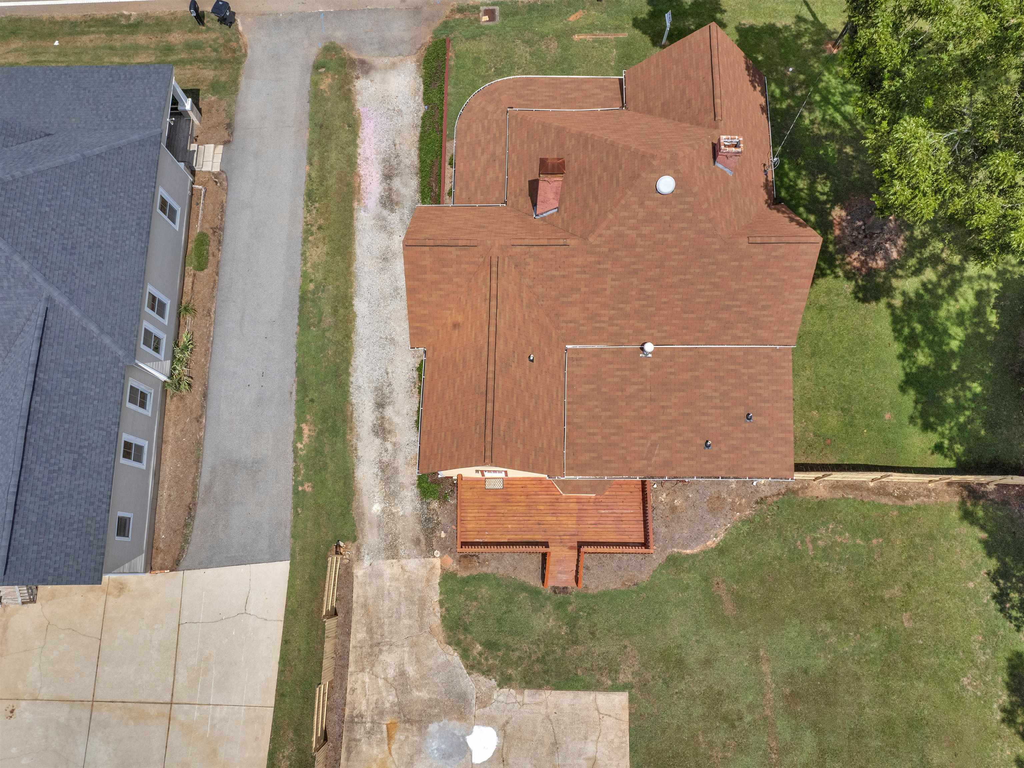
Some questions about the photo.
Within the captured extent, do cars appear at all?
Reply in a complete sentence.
No, no car is visible in the scene.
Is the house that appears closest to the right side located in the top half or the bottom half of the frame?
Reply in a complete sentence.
The house that appears closest to the right side is in the top half of the image.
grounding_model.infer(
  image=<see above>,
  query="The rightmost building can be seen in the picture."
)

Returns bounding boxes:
[403,25,819,495]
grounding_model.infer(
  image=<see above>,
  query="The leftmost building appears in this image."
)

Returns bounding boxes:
[0,63,227,587]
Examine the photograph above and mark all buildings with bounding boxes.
[0,63,227,587]
[403,25,819,495]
